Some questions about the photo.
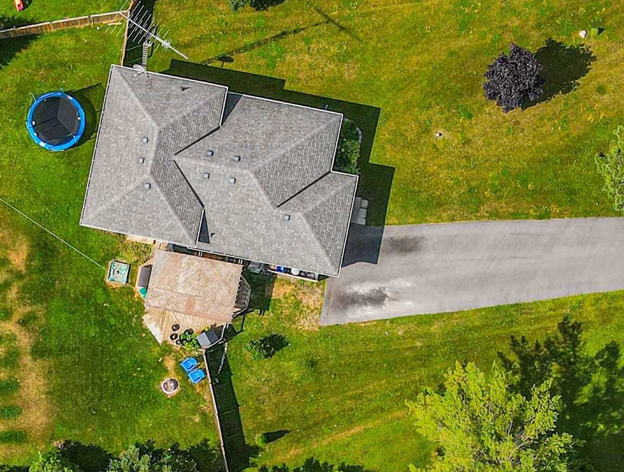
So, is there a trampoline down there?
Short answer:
Yes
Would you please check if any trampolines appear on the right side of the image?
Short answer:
No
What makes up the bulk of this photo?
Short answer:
grass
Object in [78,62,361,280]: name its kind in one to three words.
house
